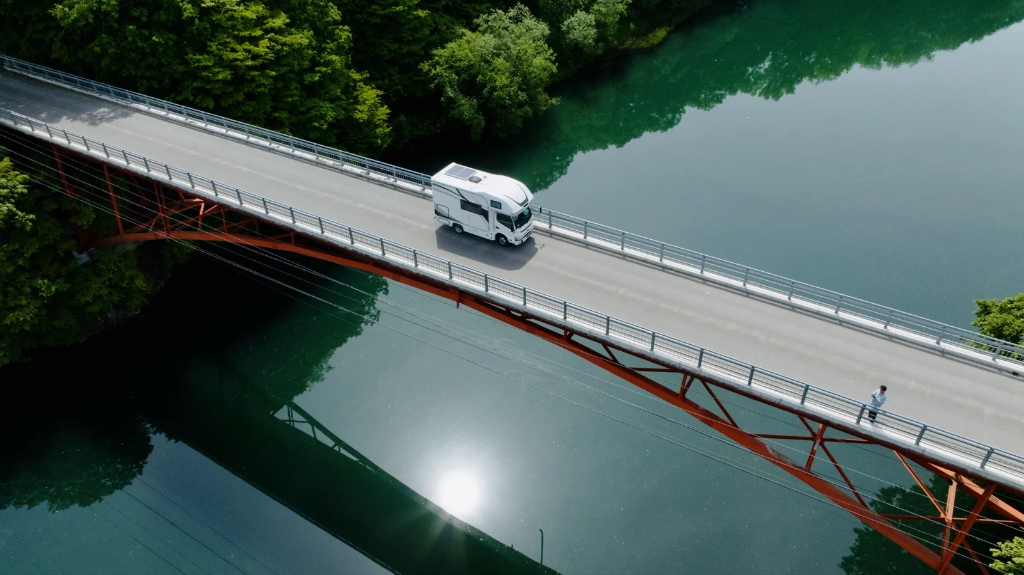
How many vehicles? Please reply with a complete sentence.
The picture shows 1 vehicle.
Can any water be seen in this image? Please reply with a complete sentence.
Yes, the picture does contain water.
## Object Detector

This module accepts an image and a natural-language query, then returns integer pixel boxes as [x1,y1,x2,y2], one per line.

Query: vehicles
[433,163,540,246]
